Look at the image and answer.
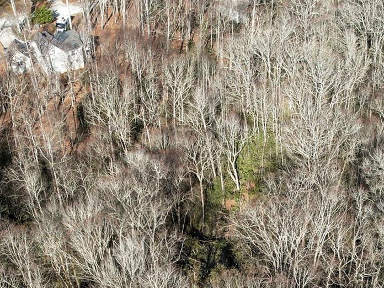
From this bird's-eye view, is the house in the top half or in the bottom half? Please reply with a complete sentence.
The top half of the photo is where the house is.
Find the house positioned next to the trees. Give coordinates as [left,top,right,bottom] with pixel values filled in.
[8,19,98,78]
